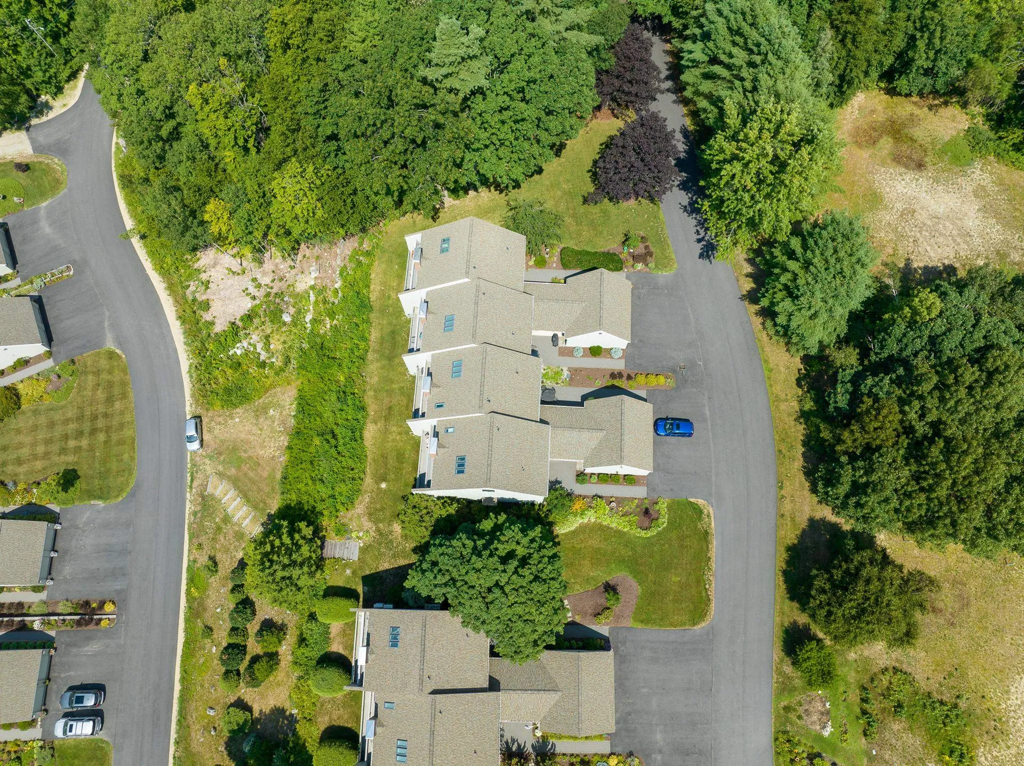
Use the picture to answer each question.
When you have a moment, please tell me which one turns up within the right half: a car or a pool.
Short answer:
car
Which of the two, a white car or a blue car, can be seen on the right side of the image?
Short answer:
blue car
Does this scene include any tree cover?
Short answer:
Yes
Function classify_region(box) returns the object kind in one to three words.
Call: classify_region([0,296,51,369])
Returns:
building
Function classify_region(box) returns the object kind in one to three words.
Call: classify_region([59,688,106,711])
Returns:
car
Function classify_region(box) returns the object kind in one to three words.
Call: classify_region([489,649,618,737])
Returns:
building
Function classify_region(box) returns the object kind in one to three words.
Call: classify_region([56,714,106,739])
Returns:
car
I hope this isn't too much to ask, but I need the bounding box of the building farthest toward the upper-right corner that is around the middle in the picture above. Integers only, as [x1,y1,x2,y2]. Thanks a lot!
[525,268,632,345]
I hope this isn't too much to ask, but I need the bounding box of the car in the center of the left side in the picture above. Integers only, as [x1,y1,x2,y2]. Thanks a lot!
[183,417,205,452]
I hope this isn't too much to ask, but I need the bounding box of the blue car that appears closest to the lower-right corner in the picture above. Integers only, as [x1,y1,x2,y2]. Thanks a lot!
[655,418,694,439]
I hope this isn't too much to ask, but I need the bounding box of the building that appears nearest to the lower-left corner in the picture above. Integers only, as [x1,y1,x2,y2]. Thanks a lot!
[0,650,52,724]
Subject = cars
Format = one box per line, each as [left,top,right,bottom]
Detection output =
[655,418,694,439]
[183,417,205,452]
[56,714,106,739]
[59,688,106,711]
